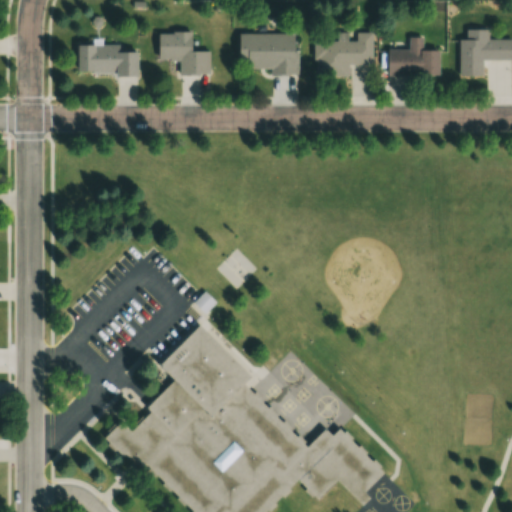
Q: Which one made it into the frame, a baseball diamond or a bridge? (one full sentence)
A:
Looking from above, you can make out a baseball diamond.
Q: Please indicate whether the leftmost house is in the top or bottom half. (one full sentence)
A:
You can find the leftmost house in the top half.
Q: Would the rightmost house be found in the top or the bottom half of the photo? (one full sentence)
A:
Seen from above, the rightmost house lies in the top half of the view.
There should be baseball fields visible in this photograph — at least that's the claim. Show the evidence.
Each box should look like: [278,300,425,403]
[324,236,402,328]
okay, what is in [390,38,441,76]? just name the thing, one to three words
house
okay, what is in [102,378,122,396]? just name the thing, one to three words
vehicle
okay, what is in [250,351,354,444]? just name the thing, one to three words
playground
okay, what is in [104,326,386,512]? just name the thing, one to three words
building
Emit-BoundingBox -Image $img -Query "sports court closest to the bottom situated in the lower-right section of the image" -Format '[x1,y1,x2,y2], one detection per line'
[358,472,424,512]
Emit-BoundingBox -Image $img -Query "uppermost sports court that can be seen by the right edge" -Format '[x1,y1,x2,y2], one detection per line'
[464,394,494,445]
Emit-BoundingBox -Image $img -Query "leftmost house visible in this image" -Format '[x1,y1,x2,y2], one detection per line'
[80,38,140,76]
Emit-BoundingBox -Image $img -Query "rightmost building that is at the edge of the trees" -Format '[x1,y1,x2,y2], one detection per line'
[462,29,512,76]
